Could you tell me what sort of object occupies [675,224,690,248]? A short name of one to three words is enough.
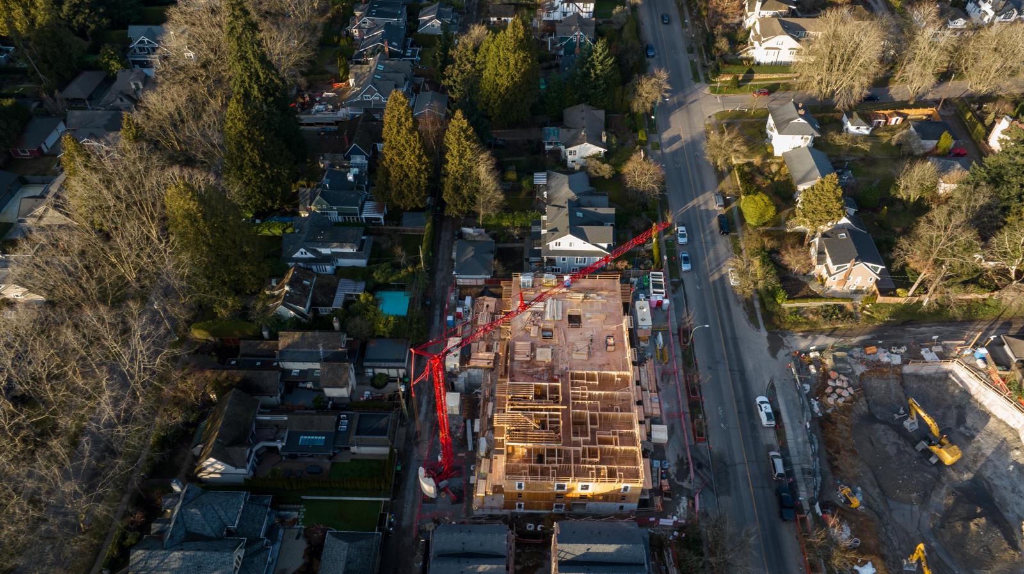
car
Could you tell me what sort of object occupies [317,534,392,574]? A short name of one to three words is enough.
building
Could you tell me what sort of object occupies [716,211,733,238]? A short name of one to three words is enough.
vehicle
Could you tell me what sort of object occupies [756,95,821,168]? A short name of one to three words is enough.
house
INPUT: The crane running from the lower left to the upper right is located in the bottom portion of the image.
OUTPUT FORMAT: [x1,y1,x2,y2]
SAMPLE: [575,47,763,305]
[407,221,671,507]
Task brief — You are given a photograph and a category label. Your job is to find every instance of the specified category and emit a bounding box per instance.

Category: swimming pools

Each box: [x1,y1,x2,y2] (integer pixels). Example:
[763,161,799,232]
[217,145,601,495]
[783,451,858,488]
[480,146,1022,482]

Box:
[377,287,411,318]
